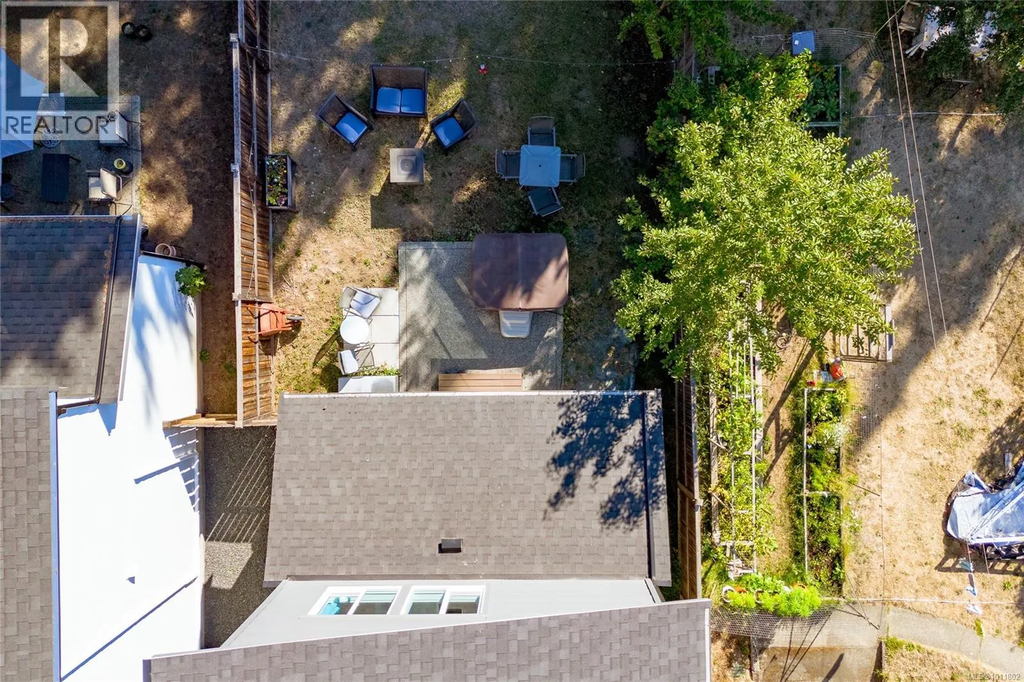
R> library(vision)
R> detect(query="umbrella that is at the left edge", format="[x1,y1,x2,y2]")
[0,49,61,161]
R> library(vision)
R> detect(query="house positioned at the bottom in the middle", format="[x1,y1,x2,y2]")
[145,390,715,682]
